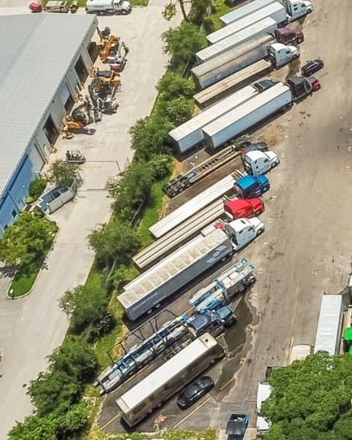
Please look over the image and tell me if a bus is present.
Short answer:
Yes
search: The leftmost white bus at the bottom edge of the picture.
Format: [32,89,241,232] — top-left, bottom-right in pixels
[118,334,222,425]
